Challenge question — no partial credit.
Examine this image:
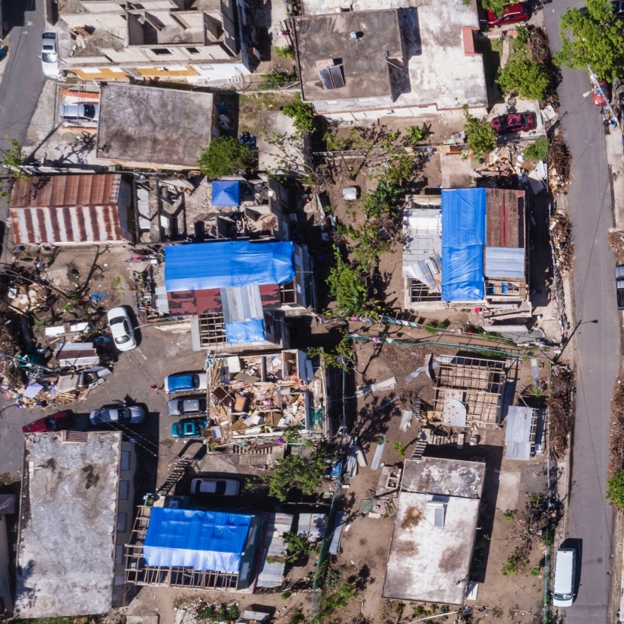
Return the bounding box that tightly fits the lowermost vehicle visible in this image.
[552,548,576,609]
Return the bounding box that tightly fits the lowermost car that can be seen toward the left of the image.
[189,476,242,498]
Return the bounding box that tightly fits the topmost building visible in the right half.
[293,0,488,127]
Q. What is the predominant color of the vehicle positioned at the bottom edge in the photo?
white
